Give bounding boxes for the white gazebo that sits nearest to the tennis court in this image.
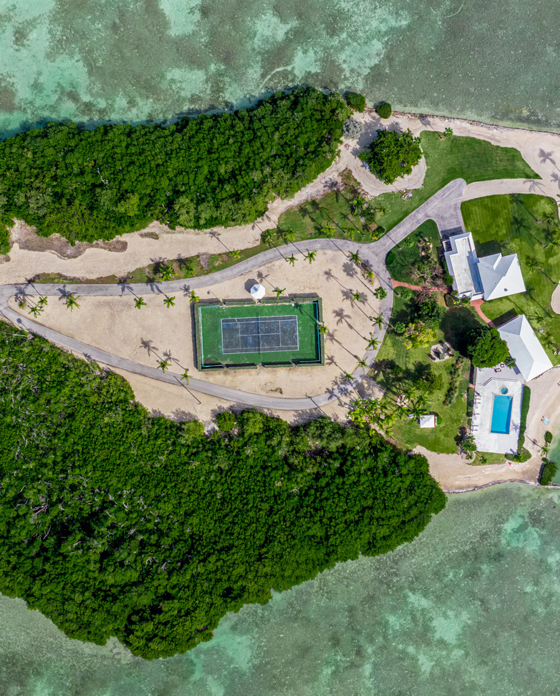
[251,285,265,299]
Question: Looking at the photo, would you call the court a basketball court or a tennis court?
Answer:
tennis court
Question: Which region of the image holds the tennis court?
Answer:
center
